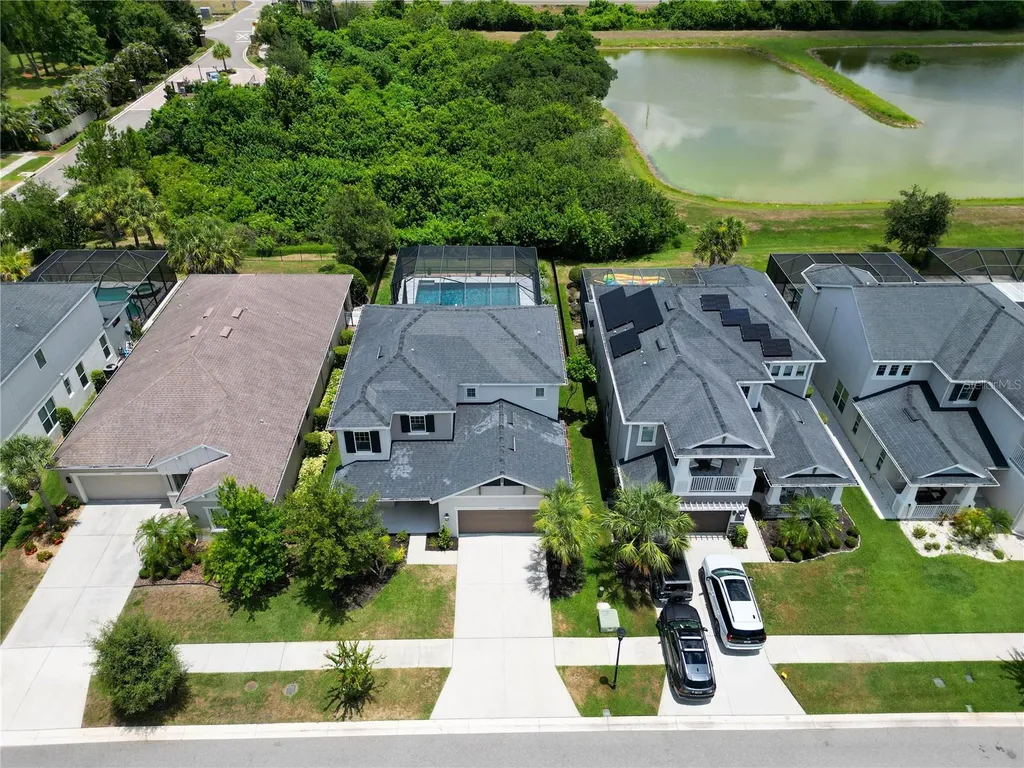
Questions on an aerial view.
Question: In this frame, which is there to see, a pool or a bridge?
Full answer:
Visible in the photo is a pool.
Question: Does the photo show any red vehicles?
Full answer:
No, this view has no red vehicle in it.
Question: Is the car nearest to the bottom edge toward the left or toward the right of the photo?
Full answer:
The car nearest to the bottom edge is on the right side of the image.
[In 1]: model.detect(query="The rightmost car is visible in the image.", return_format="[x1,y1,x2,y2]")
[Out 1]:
[702,562,767,650]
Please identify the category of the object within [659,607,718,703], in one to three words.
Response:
car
